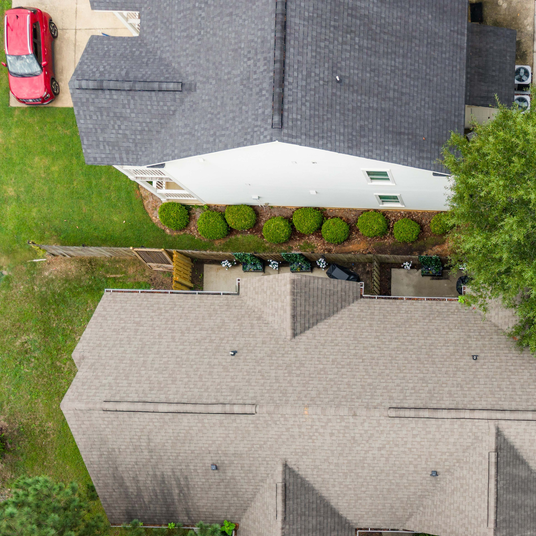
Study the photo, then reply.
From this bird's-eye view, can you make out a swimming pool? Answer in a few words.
No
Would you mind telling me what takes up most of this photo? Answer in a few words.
buildings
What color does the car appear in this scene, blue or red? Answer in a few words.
red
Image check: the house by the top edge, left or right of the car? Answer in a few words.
to the right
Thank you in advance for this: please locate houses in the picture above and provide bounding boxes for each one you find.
[59,274,536,536]
[68,0,517,210]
